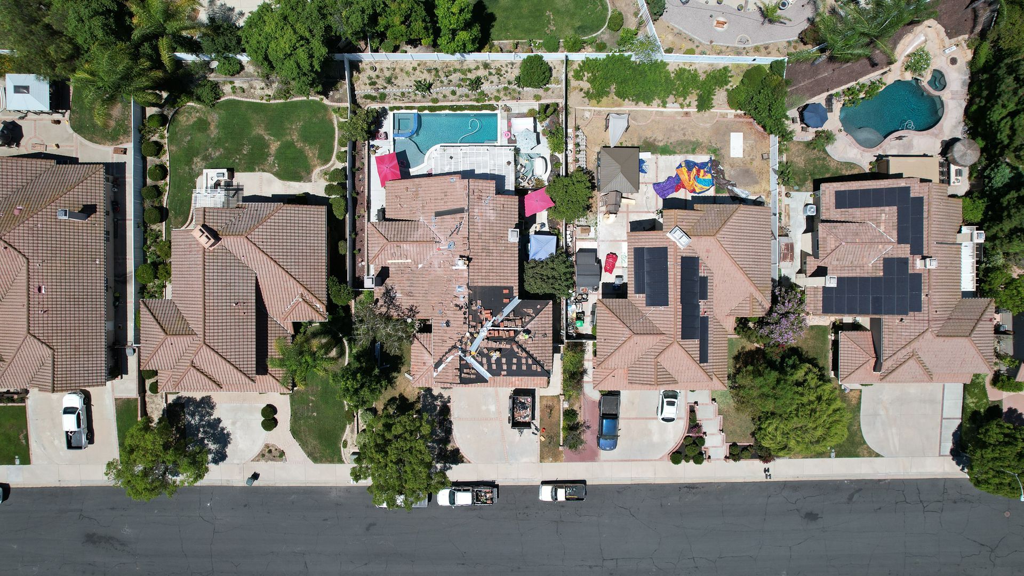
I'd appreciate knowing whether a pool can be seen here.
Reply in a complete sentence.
Yes, this view includes a pool.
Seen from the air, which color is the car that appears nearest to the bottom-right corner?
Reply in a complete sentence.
The car that appears nearest to the bottom-right corner looks white in the image.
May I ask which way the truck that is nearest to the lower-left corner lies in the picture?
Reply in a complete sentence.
In this picture, the truck that is nearest to the lower-left corner lies vertically.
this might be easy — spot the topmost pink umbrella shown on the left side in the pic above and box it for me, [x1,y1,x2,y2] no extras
[375,152,401,188]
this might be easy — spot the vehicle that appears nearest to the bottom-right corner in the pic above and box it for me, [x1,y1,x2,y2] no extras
[659,390,682,423]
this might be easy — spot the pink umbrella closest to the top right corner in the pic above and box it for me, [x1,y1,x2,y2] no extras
[525,188,553,216]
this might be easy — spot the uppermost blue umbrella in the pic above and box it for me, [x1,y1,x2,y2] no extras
[799,103,827,128]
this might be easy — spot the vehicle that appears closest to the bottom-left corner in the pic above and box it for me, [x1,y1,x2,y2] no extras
[56,392,89,453]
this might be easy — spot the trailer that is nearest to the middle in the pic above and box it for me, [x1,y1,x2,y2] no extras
[507,393,537,445]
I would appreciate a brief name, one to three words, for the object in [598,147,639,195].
gazebo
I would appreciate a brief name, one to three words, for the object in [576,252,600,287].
shed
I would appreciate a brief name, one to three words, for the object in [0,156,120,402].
house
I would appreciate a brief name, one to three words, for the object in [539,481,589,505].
truck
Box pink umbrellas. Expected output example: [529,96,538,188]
[375,152,401,188]
[525,188,553,216]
